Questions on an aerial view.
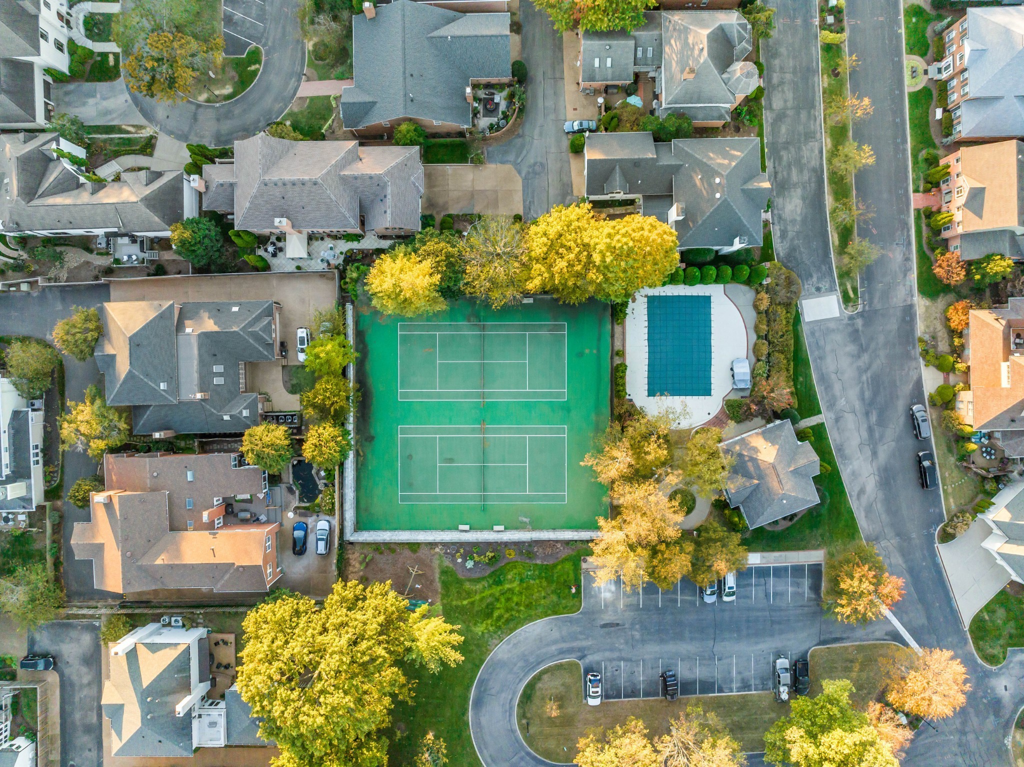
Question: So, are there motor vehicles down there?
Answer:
Yes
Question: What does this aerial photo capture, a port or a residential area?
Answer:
residential area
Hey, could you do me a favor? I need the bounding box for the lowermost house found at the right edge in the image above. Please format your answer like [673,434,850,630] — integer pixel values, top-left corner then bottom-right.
[971,482,1024,587]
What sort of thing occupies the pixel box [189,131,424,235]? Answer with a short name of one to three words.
house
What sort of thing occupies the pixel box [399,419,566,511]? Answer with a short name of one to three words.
tennis court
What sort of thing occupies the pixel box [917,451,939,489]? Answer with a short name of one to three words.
car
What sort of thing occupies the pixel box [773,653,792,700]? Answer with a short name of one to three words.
vehicle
